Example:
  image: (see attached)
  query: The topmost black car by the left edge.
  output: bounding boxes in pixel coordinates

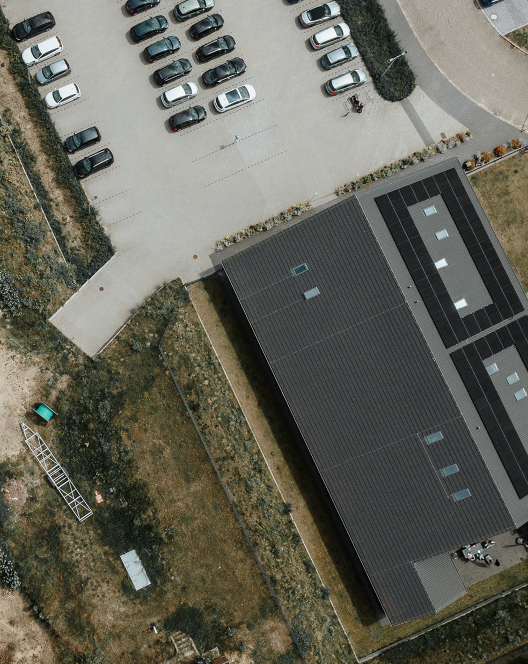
[11,9,56,42]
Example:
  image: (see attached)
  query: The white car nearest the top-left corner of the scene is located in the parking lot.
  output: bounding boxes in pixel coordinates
[22,36,62,67]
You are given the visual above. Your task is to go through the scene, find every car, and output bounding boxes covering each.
[172,0,216,25]
[142,35,182,65]
[321,68,367,99]
[309,22,348,52]
[123,0,161,19]
[22,36,62,67]
[167,105,208,133]
[127,14,170,45]
[72,147,116,179]
[62,125,102,154]
[194,34,237,65]
[42,81,81,110]
[201,56,248,88]
[160,81,199,109]
[298,0,339,31]
[34,58,72,87]
[11,9,56,42]
[318,43,358,72]
[212,83,257,114]
[151,58,192,87]
[188,12,224,41]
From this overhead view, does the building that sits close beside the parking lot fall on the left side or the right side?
right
